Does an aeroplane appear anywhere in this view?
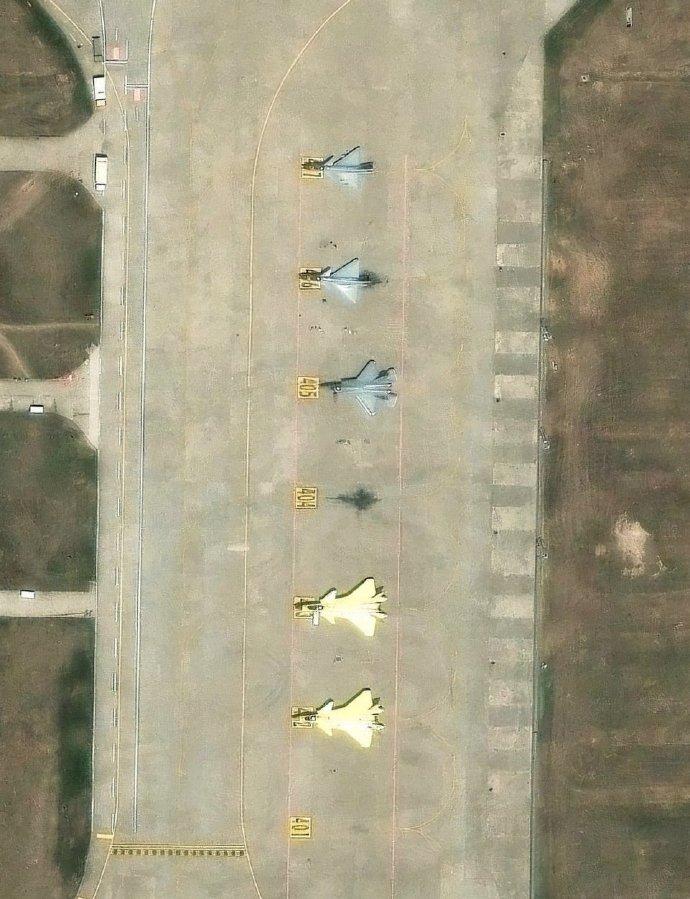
Yes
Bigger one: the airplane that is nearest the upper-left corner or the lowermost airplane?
the lowermost airplane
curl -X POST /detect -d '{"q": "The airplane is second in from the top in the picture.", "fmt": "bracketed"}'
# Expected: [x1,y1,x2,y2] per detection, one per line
[299,258,372,303]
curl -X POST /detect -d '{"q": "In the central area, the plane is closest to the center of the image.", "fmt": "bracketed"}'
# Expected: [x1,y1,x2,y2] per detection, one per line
[322,361,398,416]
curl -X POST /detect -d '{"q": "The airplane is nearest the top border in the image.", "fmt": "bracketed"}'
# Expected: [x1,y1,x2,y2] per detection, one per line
[302,148,375,192]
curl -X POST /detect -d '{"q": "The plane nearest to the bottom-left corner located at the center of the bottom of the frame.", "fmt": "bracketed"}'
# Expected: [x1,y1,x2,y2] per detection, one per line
[292,689,385,749]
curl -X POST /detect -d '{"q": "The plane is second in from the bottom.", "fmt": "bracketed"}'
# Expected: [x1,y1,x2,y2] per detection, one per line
[297,579,387,638]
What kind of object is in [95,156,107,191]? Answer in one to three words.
vehicle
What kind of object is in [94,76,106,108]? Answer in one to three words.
vehicle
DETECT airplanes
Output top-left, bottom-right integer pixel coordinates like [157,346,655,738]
[302,148,375,192]
[292,689,385,749]
[322,361,398,416]
[297,579,387,638]
[299,258,372,303]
